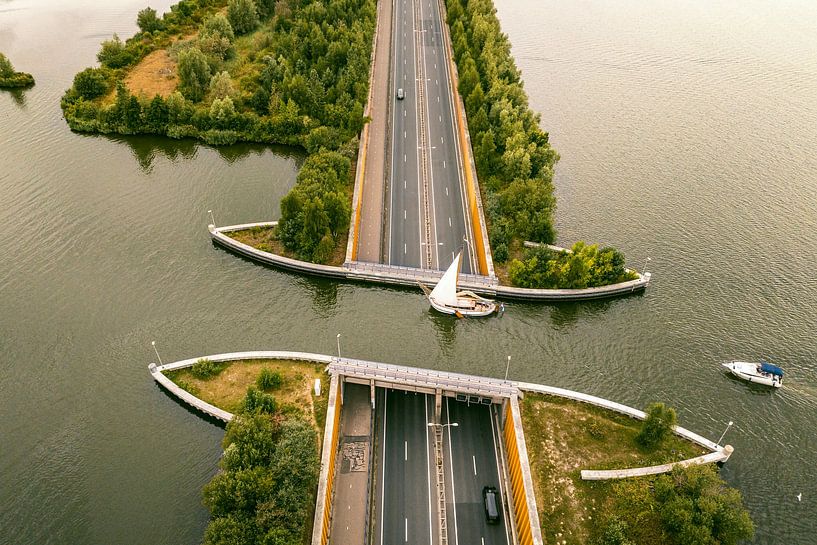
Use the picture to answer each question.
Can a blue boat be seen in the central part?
No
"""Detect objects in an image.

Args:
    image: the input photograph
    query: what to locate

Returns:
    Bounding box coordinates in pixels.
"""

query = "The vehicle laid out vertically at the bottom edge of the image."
[483,488,501,525]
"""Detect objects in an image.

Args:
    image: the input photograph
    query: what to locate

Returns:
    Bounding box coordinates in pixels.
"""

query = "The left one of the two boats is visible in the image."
[417,247,506,318]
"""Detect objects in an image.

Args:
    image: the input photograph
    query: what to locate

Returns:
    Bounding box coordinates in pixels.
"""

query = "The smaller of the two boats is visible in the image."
[723,359,783,389]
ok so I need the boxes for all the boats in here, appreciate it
[417,247,506,318]
[723,359,783,389]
